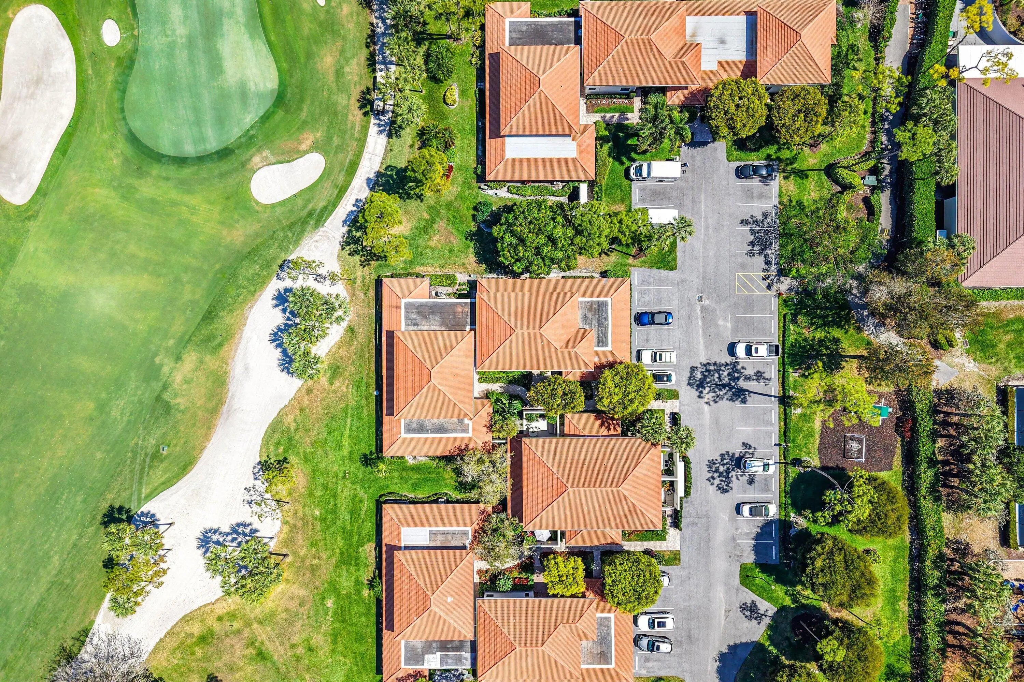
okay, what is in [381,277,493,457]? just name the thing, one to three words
house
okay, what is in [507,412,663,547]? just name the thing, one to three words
house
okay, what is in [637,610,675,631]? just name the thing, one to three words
car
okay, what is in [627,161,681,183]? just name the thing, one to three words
truck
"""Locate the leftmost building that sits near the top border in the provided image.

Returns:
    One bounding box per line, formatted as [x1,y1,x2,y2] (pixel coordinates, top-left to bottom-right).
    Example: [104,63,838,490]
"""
[485,0,595,181]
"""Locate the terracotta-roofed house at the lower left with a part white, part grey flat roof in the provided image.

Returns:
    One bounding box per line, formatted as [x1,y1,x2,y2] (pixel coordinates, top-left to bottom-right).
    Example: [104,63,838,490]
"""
[381,503,492,682]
